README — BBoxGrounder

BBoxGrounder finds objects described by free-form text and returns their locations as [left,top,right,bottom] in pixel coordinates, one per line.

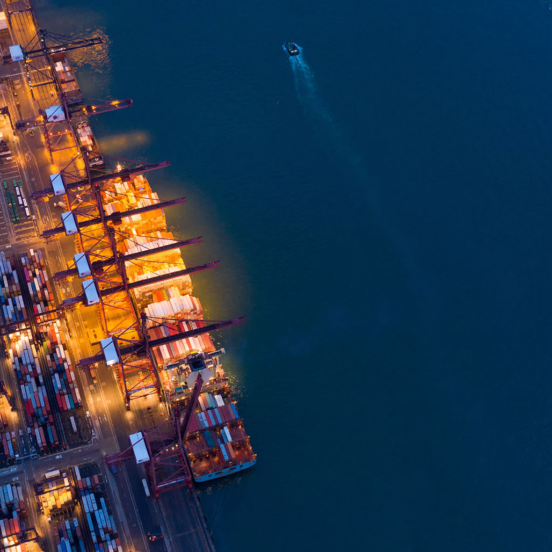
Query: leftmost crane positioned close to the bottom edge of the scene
[0,526,43,552]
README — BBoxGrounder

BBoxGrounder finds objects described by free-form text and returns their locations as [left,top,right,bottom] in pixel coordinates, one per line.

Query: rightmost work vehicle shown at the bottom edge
[149,526,168,544]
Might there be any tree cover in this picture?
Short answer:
No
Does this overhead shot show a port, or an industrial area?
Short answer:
port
